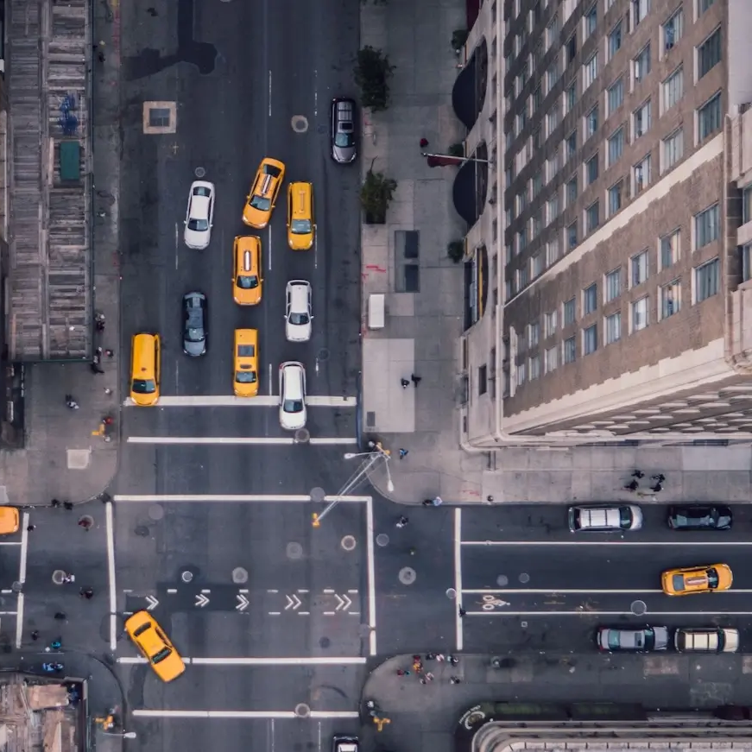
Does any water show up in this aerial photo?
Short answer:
No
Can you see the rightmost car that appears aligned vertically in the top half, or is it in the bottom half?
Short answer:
top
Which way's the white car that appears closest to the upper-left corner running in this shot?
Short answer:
from top to bottom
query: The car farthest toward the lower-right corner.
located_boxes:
[670,624,739,656]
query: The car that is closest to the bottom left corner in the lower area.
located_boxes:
[129,609,182,681]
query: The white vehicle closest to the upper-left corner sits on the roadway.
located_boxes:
[182,180,216,252]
